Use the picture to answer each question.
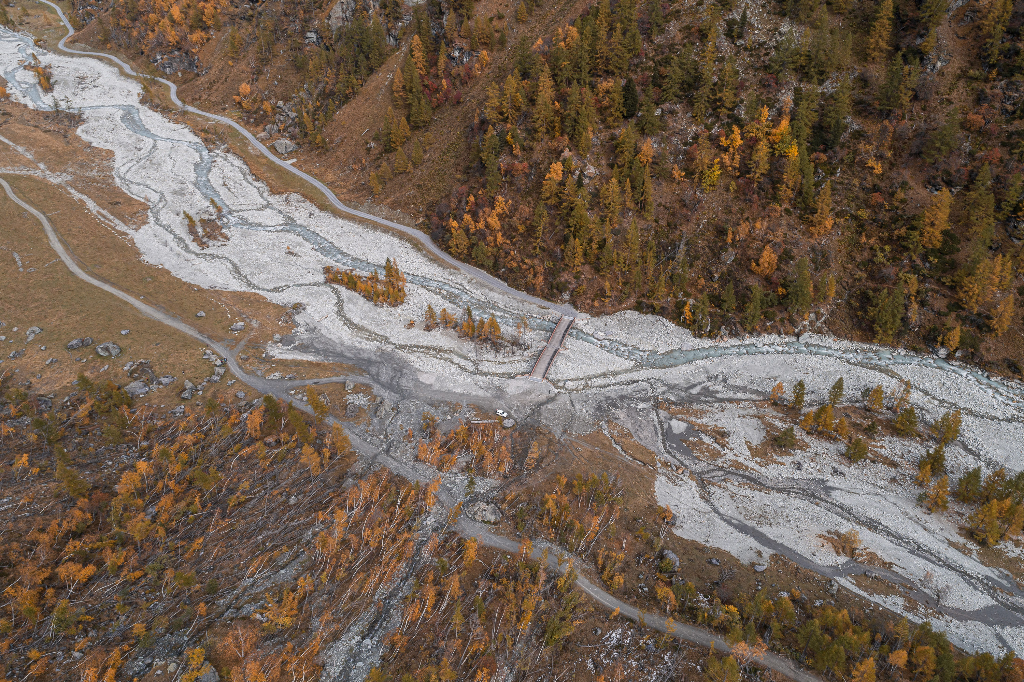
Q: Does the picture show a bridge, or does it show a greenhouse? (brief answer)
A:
bridge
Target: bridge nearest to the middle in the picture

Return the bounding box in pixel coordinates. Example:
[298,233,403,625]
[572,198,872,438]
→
[522,313,581,388]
